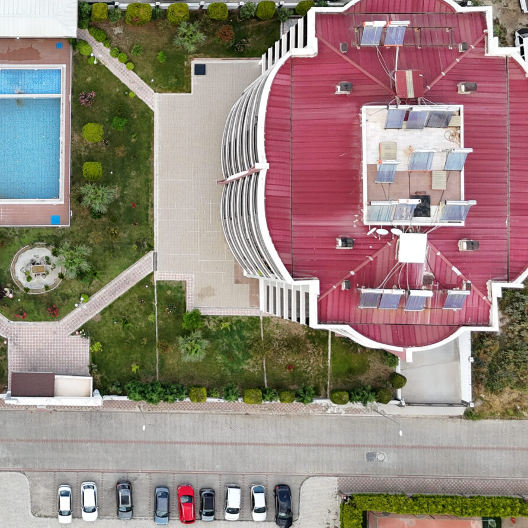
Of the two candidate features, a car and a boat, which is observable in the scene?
car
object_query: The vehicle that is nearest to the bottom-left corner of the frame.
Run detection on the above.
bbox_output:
[56,485,73,525]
